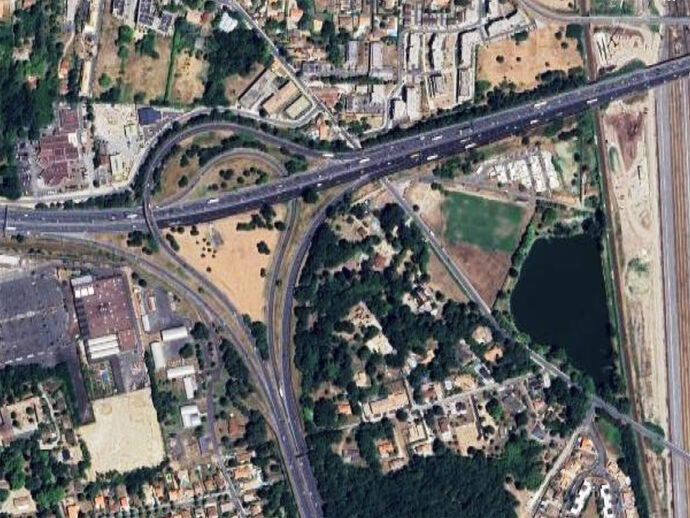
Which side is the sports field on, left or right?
right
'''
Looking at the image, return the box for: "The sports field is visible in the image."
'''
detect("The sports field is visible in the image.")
[441,191,526,252]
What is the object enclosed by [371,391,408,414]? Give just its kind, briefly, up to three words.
house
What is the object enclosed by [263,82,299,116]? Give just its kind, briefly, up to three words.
building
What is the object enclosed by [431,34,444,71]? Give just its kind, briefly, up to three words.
building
